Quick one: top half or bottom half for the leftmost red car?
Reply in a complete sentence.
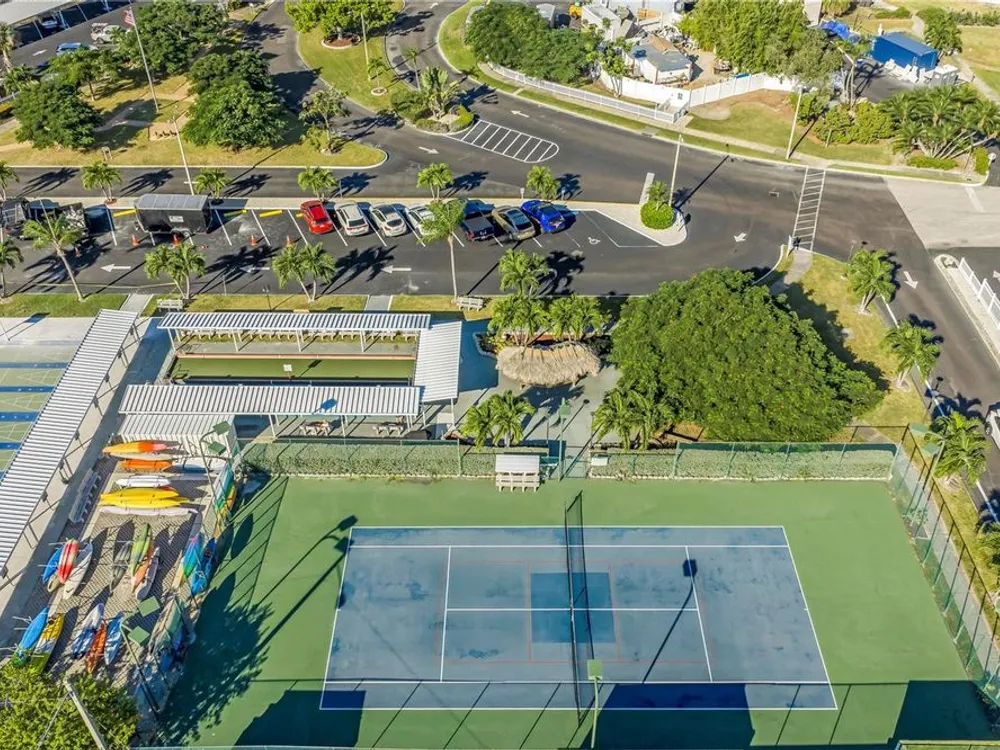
Seen from above, the leftmost red car lies in the top half of the view.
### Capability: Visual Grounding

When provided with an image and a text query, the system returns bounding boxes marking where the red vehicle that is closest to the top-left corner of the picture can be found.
[298,205,335,238]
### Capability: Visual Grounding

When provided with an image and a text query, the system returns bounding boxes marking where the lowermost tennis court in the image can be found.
[155,477,1000,750]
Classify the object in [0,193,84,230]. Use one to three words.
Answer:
truck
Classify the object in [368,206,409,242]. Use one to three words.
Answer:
car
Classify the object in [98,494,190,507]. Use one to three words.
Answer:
boat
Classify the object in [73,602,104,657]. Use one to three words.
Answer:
boat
